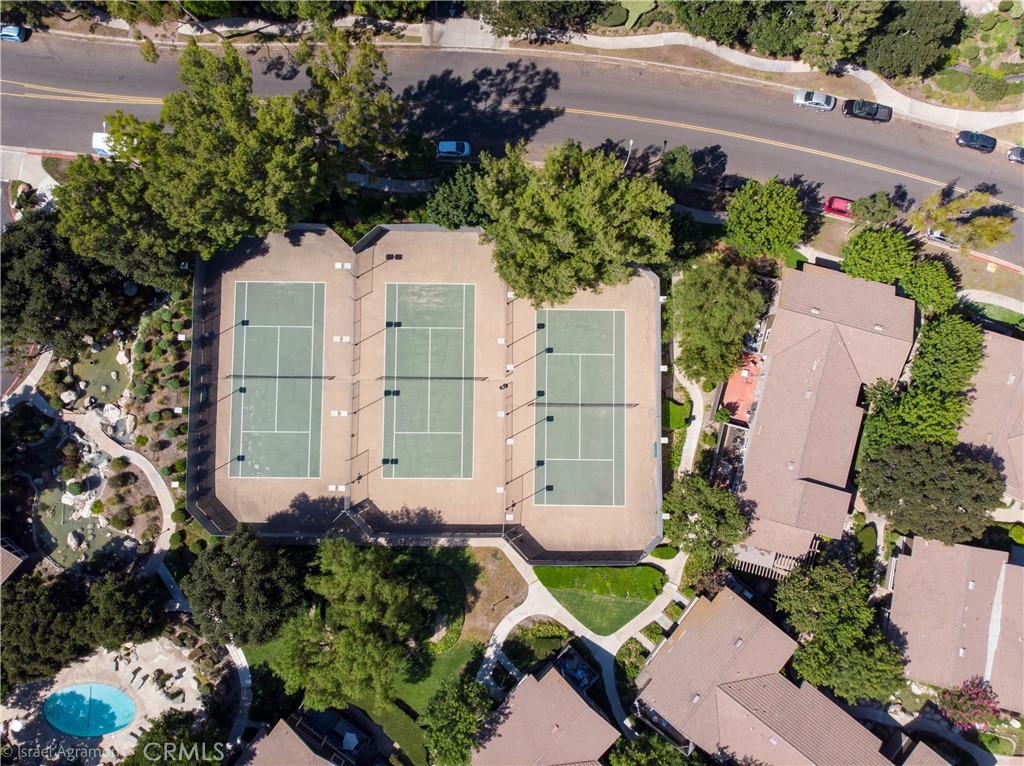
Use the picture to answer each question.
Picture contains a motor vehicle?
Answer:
Yes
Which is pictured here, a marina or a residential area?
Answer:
residential area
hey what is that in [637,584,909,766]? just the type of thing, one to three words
house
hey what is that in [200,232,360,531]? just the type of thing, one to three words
tennis court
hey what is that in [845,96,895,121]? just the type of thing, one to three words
truck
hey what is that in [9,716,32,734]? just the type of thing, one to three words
umbrella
